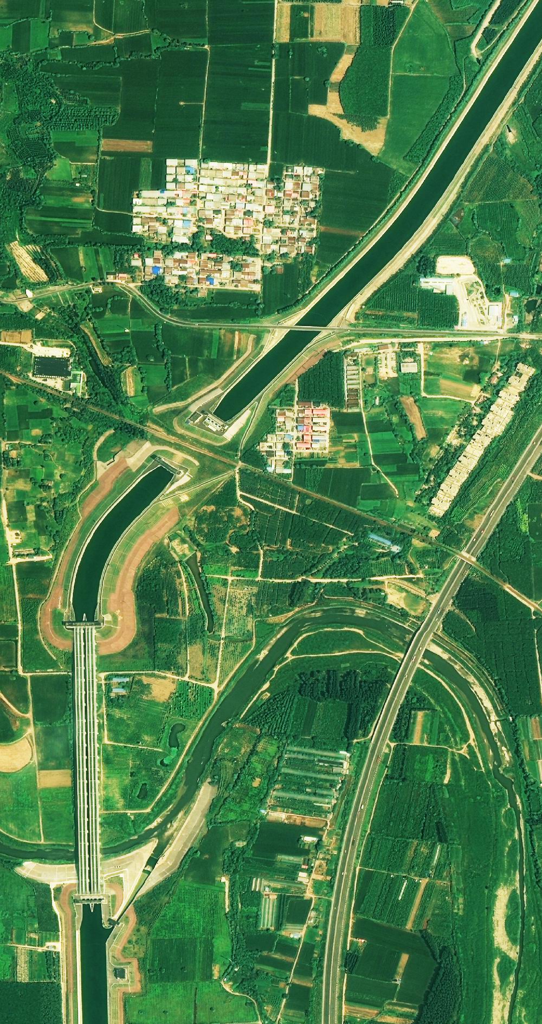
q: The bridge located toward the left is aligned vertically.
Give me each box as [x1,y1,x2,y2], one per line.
[74,625,101,896]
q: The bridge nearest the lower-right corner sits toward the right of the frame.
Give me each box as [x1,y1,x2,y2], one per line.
[400,623,434,678]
